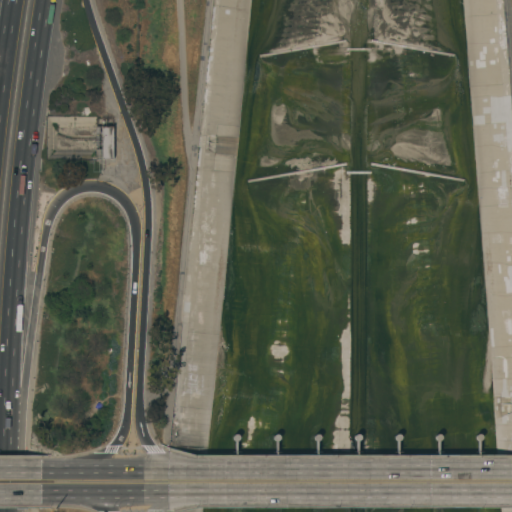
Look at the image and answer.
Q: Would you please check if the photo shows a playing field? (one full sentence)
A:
No, I can't see a single playing field in this photo.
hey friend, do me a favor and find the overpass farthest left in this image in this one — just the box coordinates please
[0,456,54,508]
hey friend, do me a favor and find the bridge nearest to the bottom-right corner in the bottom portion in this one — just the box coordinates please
[162,434,512,508]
